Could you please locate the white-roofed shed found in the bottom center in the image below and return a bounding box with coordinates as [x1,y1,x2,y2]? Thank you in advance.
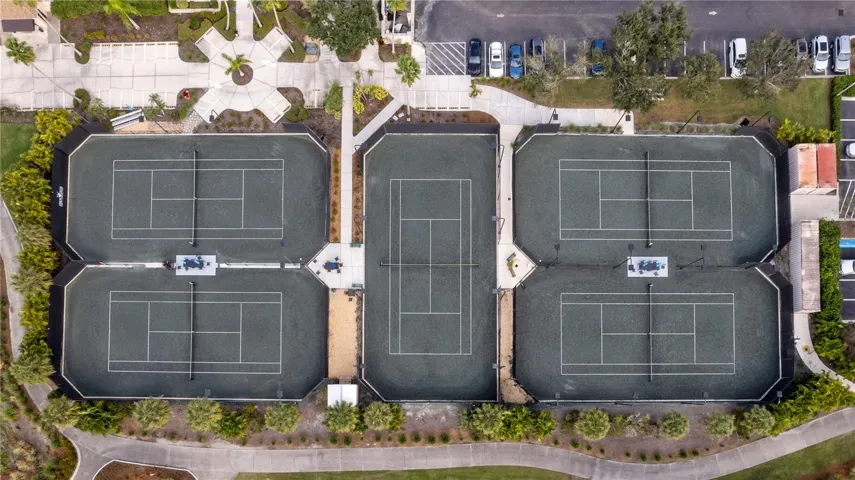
[326,384,359,409]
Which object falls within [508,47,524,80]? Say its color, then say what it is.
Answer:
blue car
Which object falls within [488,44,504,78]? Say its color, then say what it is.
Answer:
white car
